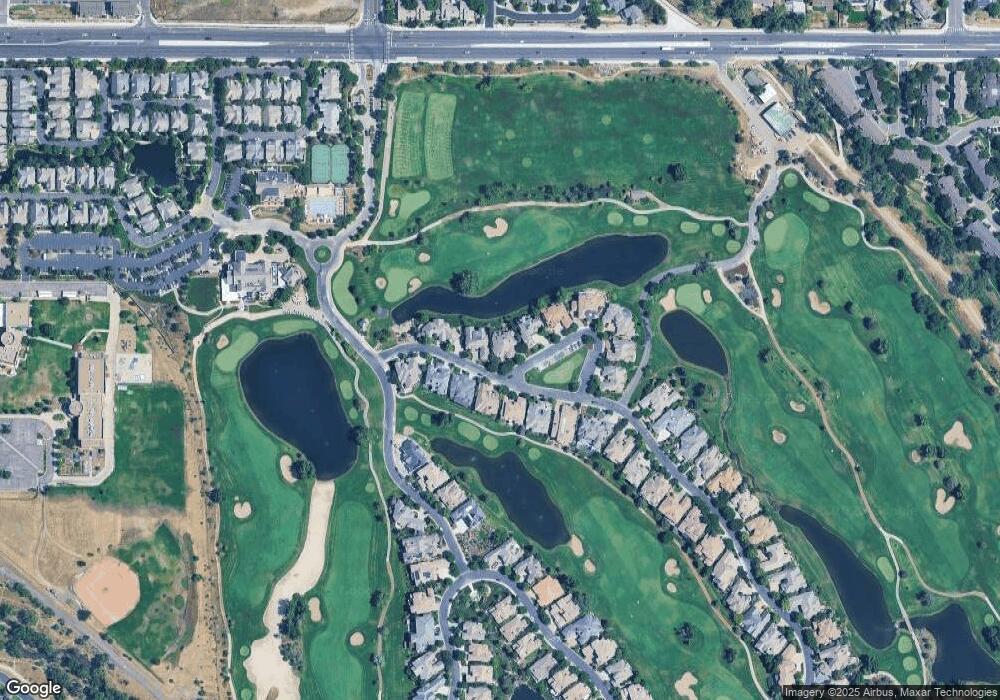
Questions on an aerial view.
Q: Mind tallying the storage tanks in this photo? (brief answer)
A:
0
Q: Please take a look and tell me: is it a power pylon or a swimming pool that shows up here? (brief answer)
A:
swimming pool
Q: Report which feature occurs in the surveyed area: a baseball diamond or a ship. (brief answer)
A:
baseball diamond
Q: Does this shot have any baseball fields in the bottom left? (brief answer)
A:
Yes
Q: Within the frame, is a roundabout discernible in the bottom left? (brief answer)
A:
No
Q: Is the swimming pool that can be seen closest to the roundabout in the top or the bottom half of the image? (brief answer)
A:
top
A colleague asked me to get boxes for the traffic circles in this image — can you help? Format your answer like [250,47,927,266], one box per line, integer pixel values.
[304,235,342,273]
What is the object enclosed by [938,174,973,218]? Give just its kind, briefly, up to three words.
building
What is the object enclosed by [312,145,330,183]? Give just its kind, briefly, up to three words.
tennis court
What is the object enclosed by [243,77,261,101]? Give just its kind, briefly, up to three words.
house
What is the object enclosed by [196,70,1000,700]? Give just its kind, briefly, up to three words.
golf course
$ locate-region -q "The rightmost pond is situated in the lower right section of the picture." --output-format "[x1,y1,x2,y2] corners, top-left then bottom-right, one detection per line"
[909,603,1000,685]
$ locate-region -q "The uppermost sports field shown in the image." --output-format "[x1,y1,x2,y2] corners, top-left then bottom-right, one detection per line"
[52,384,185,512]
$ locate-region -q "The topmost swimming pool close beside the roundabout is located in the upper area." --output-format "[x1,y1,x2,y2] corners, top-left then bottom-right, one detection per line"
[306,185,344,223]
